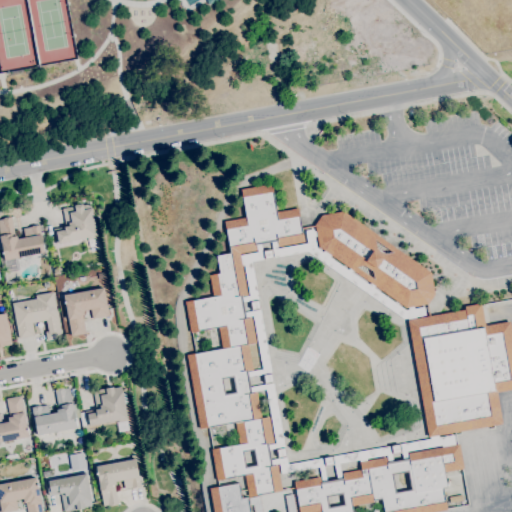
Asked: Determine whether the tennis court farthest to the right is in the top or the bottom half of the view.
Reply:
top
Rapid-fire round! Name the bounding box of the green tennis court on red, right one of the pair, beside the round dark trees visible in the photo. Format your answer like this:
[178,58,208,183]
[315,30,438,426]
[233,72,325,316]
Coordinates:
[28,0,76,64]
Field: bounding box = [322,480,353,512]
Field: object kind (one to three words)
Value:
building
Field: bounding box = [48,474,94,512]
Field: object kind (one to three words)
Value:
house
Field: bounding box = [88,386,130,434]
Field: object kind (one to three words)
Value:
house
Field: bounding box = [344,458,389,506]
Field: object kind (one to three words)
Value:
building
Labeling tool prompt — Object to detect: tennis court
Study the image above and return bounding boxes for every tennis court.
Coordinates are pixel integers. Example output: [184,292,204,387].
[28,0,76,64]
[0,0,40,72]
